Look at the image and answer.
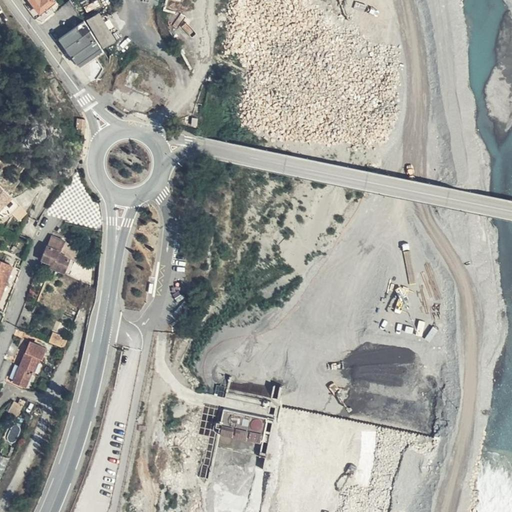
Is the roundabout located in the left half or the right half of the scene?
left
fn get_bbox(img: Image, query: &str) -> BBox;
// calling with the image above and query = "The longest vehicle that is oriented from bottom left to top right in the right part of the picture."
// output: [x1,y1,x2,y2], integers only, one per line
[336,461,358,486]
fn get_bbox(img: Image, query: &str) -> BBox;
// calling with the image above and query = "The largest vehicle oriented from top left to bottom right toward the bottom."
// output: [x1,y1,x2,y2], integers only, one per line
[326,381,348,407]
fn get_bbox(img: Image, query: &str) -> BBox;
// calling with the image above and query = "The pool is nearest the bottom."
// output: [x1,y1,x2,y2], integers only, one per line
[4,422,22,443]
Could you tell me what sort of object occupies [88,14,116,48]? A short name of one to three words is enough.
house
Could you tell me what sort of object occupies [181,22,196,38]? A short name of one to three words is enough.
vehicle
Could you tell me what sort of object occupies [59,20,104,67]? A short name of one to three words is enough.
building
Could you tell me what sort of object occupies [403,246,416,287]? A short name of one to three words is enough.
vehicle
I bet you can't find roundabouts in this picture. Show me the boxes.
[88,122,174,222]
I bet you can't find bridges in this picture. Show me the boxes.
[188,137,512,221]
